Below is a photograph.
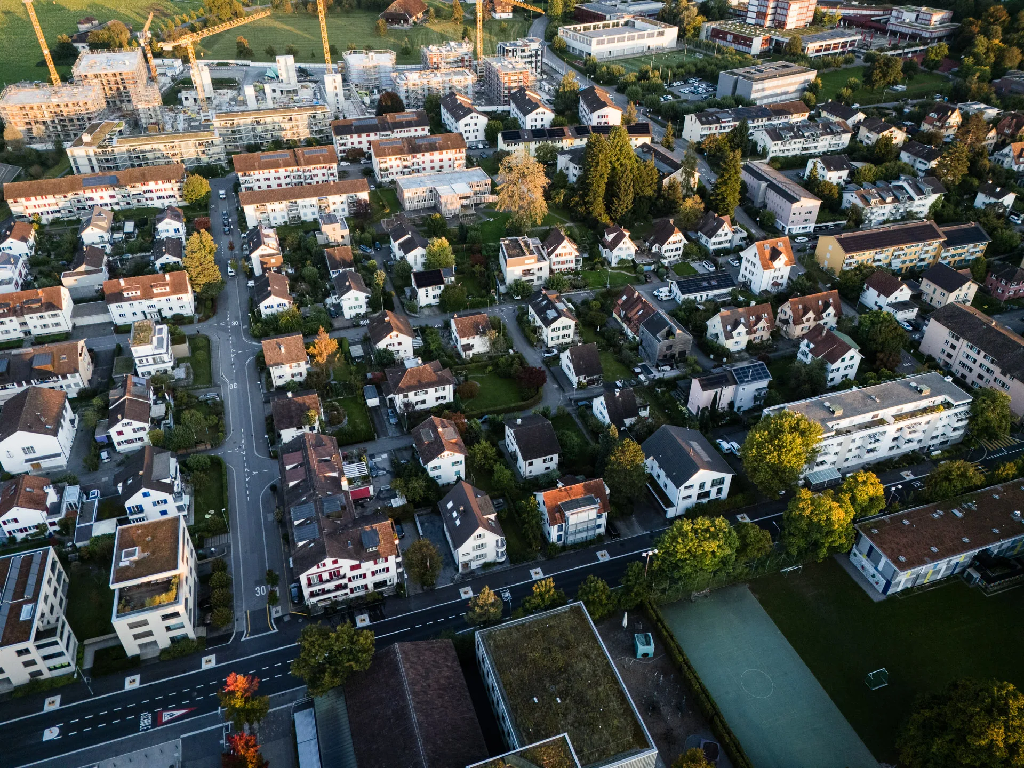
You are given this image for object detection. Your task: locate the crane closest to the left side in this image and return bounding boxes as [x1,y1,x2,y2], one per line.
[27,0,61,85]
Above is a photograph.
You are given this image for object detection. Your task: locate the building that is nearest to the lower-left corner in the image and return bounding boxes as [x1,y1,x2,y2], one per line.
[0,546,85,695]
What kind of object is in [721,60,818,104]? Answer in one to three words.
building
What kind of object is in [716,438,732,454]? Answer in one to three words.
vehicle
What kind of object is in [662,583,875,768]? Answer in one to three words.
sports court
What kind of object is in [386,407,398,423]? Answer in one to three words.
vehicle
